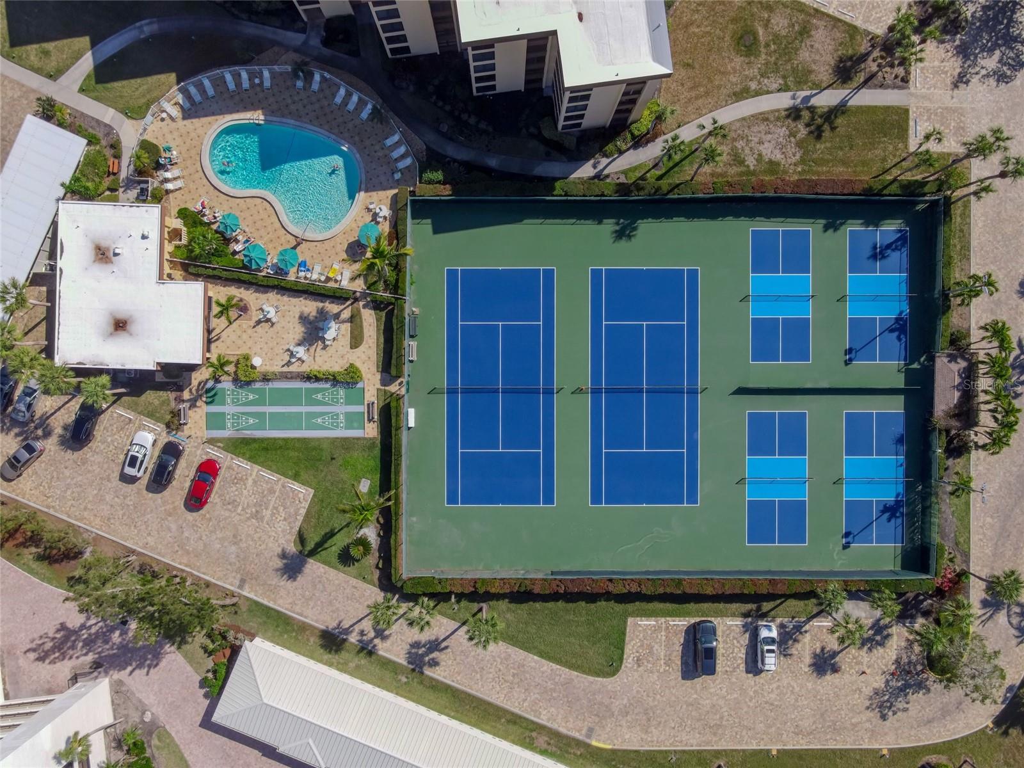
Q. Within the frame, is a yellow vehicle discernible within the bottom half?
No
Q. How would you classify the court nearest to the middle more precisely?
tennis court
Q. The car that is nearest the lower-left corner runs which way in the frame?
on a diagonal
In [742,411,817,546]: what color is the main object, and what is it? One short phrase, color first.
blue sports court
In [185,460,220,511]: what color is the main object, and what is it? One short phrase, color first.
red car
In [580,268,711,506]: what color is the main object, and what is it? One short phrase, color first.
blue tennis court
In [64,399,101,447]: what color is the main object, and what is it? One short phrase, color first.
black car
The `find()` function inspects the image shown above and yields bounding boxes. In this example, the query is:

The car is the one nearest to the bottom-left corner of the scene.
[1,440,46,480]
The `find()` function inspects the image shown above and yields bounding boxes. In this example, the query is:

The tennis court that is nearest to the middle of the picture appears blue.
[436,268,565,506]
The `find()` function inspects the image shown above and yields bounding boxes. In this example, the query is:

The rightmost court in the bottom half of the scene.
[839,411,915,546]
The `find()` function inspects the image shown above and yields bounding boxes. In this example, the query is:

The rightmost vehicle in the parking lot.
[755,624,779,672]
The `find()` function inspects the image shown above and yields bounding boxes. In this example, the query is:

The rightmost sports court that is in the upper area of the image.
[843,228,919,363]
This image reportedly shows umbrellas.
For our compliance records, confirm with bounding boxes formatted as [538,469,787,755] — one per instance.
[155,145,171,157]
[219,214,242,236]
[278,248,299,270]
[245,245,267,268]
[360,224,381,245]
